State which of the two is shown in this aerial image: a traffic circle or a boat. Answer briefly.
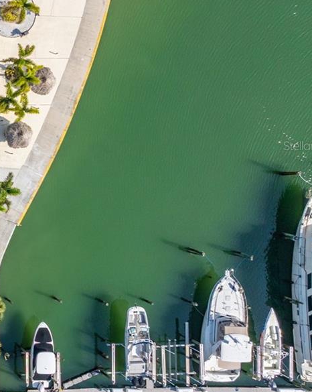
boat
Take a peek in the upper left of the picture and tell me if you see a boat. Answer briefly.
No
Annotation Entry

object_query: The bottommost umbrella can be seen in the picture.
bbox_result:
[4,122,30,149]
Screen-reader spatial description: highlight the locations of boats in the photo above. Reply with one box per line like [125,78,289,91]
[283,192,312,388]
[260,311,283,389]
[195,276,245,388]
[128,308,155,387]
[32,324,57,392]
